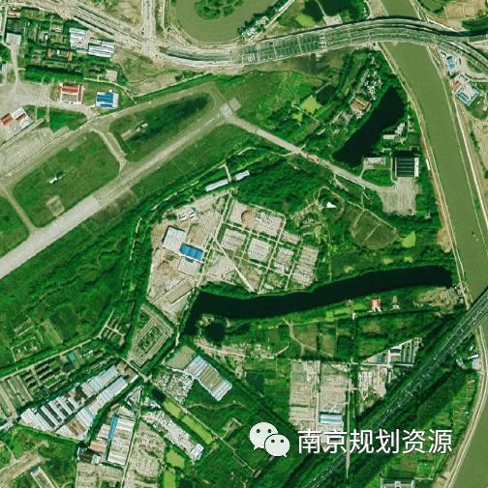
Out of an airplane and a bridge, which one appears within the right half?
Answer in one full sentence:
You can see a bridge within the right half.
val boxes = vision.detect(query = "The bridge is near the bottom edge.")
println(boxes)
[305,294,488,488]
